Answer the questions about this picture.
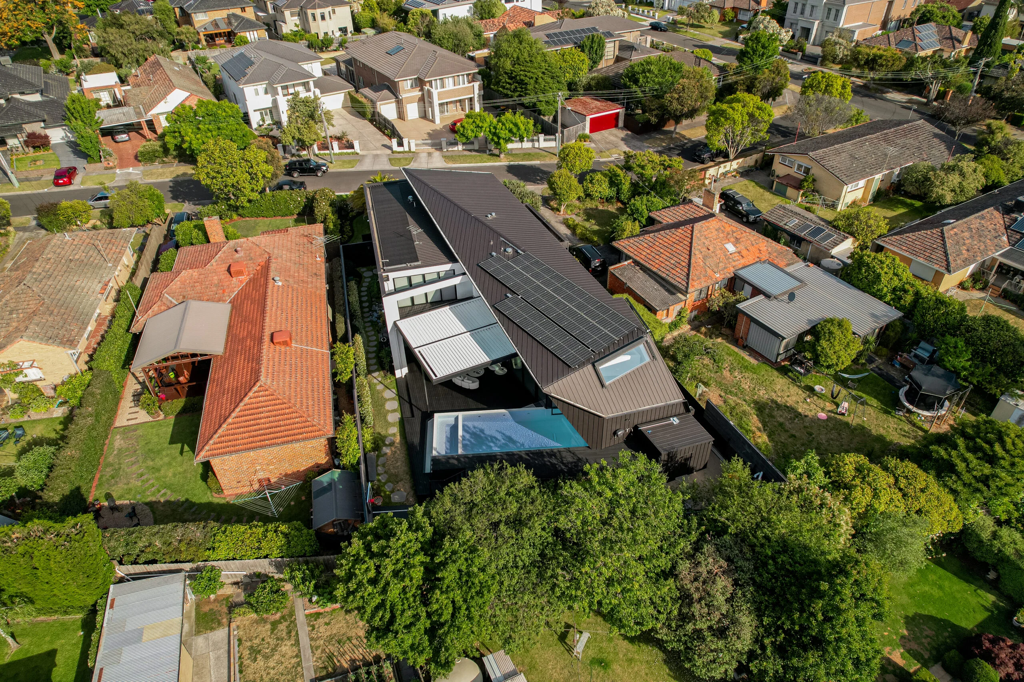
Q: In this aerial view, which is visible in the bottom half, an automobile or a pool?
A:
pool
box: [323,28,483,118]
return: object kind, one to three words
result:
house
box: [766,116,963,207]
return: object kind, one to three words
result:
house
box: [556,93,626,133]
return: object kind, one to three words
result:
building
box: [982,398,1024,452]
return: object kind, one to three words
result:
shed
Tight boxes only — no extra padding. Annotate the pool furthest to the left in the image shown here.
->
[425,401,591,493]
